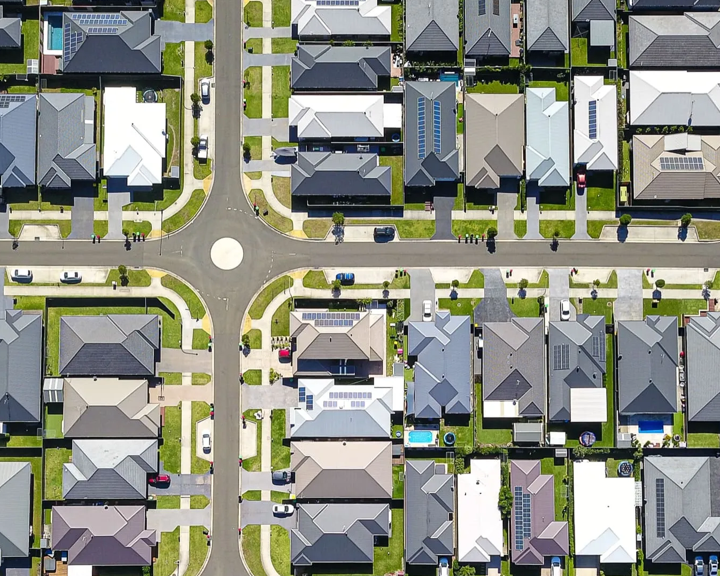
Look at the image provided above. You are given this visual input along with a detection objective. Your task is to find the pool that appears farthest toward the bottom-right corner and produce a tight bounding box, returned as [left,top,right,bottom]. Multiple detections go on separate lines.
[619,416,674,447]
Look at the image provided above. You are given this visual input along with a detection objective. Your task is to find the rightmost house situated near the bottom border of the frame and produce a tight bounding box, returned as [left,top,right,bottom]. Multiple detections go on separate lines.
[643,456,720,563]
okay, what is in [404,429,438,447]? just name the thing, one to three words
swimming pool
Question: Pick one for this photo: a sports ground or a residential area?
residential area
